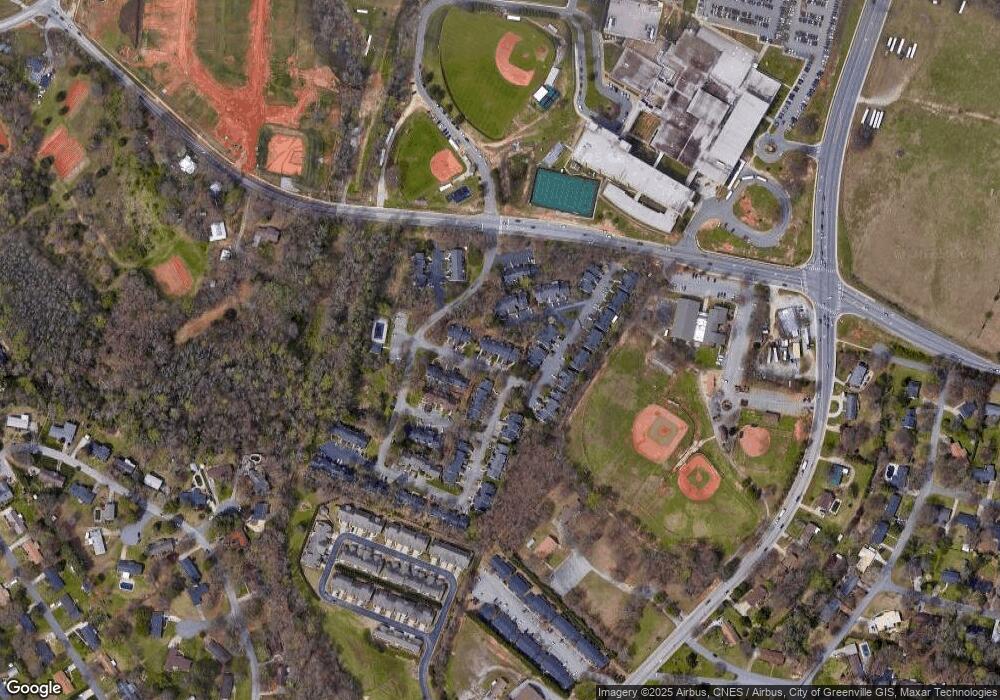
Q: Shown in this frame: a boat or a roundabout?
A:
roundabout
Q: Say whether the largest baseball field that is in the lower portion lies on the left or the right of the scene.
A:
right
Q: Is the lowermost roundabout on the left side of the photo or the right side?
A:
right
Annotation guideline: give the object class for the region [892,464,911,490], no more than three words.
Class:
house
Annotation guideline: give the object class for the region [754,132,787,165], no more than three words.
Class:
roundabout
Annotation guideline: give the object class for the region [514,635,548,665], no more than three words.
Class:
building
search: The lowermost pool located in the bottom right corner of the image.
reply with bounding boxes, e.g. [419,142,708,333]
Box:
[858,640,872,660]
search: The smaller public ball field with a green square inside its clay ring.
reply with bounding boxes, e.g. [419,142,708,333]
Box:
[678,454,721,501]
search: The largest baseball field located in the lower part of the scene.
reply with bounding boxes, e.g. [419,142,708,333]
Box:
[633,404,688,463]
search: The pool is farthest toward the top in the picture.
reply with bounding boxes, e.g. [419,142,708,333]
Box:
[372,318,388,344]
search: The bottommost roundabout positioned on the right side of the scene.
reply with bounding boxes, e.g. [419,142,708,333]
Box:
[728,175,792,248]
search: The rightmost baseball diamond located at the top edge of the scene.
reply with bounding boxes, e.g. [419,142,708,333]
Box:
[438,7,558,138]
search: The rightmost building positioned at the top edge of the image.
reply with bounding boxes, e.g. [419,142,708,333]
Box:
[573,26,781,233]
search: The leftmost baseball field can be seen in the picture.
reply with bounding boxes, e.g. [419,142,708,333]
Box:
[390,103,468,201]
